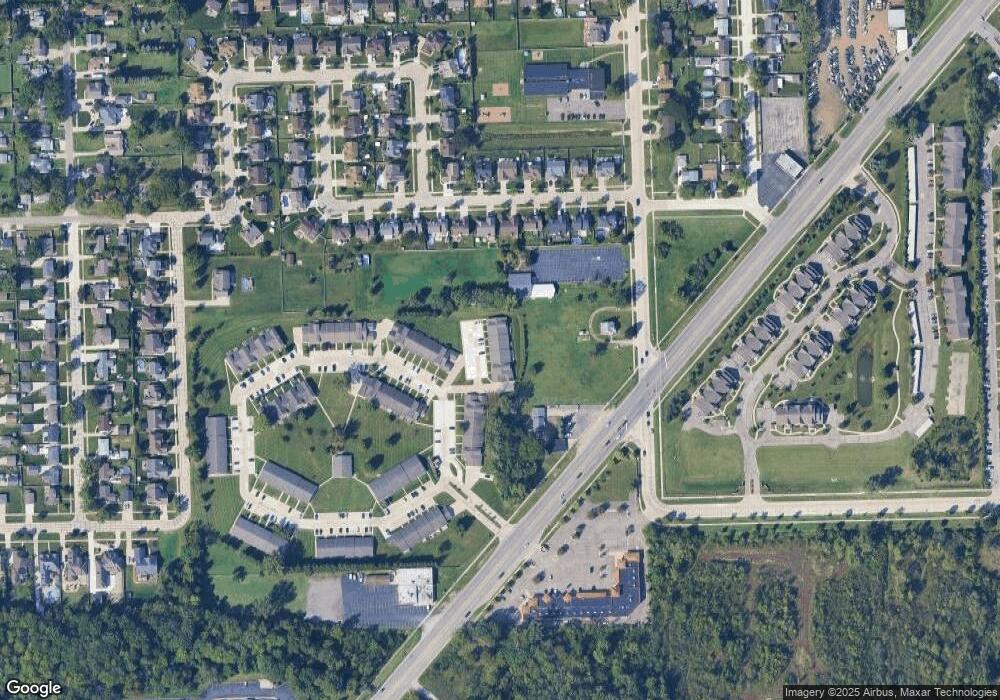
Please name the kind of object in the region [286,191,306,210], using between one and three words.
house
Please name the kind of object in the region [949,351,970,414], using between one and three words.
sports court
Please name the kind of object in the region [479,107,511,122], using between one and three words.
playground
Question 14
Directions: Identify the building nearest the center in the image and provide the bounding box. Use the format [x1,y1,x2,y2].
[487,317,513,383]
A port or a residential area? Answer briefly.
residential area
